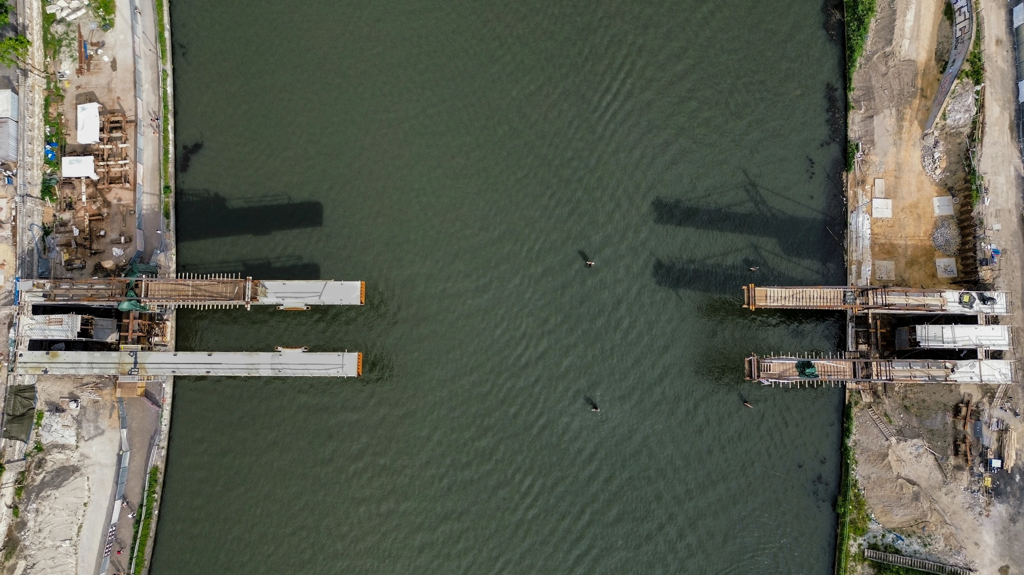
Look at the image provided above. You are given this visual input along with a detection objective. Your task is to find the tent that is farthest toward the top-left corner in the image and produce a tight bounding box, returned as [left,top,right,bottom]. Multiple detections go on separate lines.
[77,102,107,145]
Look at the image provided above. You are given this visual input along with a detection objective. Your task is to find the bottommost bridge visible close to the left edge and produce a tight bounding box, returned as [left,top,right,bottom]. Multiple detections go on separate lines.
[18,347,363,377]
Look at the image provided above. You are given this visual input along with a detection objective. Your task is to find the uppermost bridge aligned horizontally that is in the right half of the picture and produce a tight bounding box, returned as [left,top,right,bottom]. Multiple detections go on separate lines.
[741,284,1014,315]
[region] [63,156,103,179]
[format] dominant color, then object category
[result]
white tent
